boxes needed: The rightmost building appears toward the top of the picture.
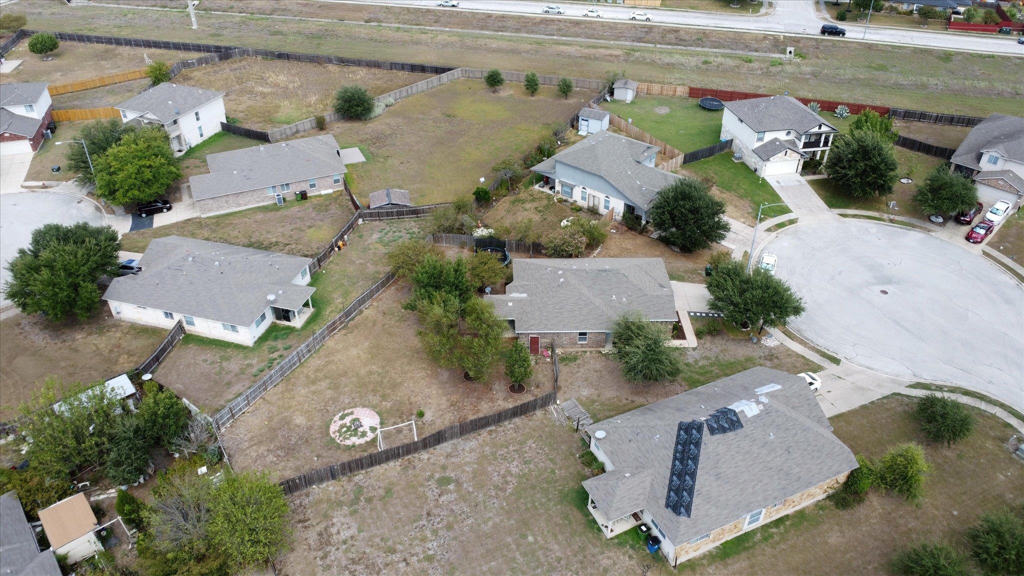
[950,113,1024,211]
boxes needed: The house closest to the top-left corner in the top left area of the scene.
[0,83,55,156]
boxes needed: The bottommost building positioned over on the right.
[577,367,852,563]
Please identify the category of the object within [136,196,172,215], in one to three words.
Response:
car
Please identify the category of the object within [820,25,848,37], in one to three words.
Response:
vehicle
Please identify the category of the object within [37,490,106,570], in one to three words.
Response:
shed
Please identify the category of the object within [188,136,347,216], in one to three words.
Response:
house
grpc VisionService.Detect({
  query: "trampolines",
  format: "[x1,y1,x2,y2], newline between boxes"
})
[699,99,723,113]
[473,233,511,265]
